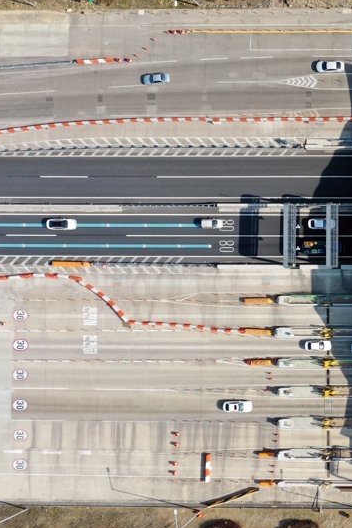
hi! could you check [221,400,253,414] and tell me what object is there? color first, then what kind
white car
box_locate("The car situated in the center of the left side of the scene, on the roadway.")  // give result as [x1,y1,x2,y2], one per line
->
[46,217,79,231]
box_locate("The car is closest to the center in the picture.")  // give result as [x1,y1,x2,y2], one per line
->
[199,218,225,231]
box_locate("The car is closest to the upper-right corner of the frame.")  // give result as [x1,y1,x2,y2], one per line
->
[316,58,345,73]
